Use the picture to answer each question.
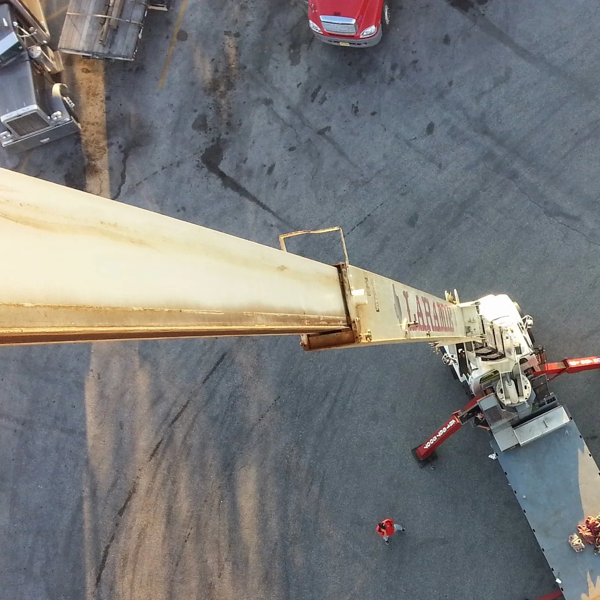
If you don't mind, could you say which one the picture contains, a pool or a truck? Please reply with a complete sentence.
There is a truck in the scene.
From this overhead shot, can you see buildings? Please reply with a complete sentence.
No, there is no building in the image.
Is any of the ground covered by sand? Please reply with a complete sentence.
No, there's no sand in this view.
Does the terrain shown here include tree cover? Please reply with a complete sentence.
No, no tree cover is visible.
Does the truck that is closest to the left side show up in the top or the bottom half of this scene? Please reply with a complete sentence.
The truck that is closest to the left side is in the top half of the image.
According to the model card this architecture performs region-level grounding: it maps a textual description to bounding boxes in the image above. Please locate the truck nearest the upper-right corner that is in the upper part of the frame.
[306,0,390,52]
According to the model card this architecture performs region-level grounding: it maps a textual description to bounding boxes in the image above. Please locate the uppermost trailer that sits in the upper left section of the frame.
[57,0,172,65]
